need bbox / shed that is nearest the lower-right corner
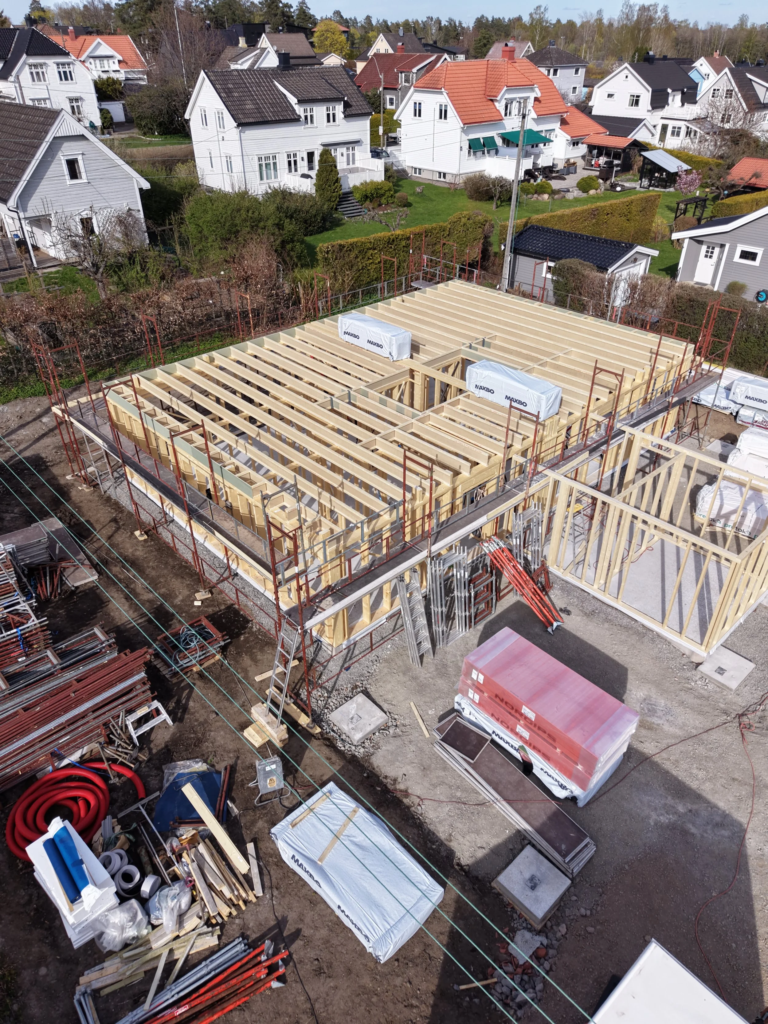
[593,940,749,1024]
